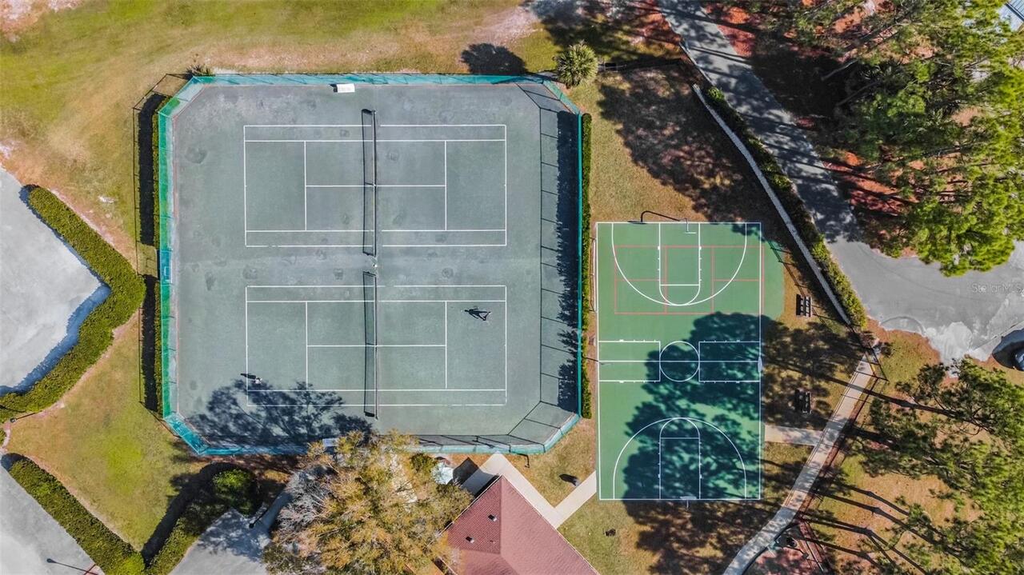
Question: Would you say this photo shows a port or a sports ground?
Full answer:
The picture captures a sports ground.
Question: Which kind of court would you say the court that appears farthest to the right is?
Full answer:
Looking closely, the court that appears farthest to the right is a basketball court.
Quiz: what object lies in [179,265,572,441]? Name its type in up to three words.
tennis court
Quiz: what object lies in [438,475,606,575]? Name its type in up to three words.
building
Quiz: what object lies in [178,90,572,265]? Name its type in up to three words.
tennis court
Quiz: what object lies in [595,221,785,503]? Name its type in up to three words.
basketball court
